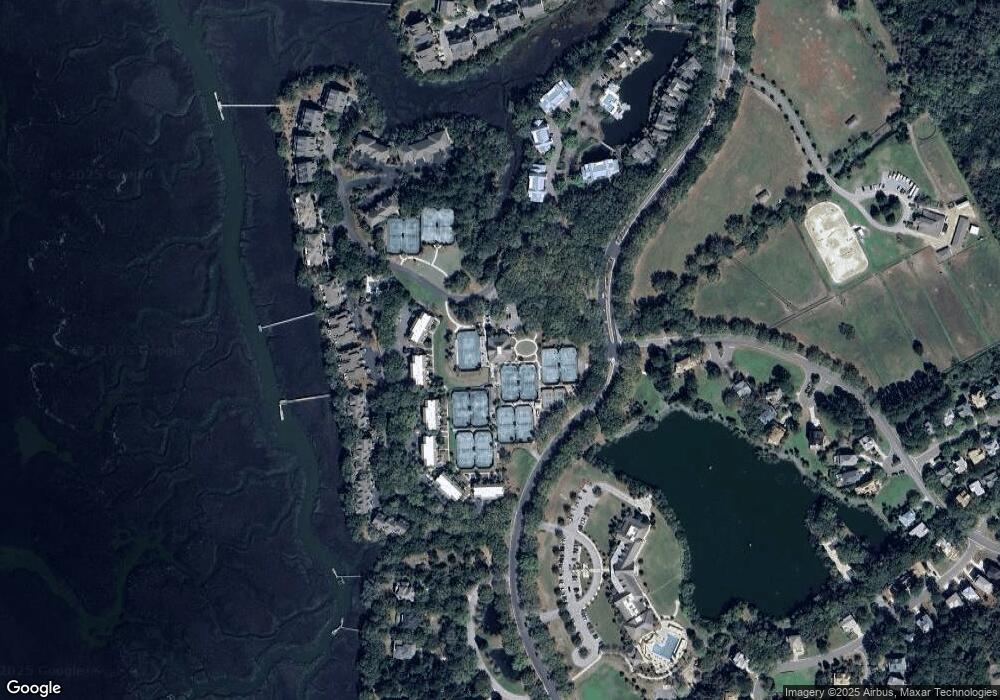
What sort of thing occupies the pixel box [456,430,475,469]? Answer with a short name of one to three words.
tennis court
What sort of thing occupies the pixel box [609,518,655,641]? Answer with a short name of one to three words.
building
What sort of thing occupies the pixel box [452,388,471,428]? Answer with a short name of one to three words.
tennis court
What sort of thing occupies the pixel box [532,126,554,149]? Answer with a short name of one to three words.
house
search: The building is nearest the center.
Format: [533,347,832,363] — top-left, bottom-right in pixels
[487,333,514,364]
